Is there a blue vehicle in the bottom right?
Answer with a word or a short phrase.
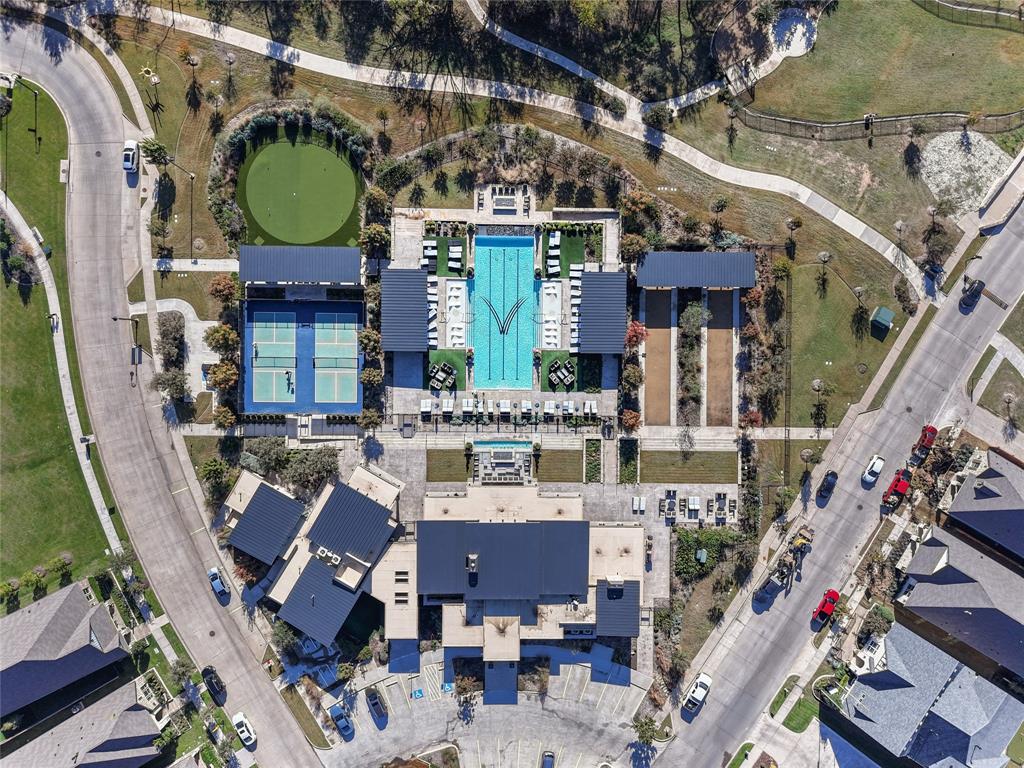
Yes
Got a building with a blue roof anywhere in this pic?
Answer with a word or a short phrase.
Yes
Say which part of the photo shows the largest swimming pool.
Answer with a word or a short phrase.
center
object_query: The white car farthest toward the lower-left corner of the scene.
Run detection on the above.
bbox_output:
[230,715,255,748]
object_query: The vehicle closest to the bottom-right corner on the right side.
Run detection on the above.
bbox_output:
[814,589,841,626]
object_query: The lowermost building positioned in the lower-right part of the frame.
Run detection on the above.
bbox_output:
[836,622,1024,768]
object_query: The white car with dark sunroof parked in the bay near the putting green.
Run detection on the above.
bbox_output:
[119,139,137,172]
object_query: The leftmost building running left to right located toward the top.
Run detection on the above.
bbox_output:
[237,246,361,288]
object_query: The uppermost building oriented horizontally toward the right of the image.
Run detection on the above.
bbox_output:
[637,252,756,291]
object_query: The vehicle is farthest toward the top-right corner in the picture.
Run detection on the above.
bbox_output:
[961,276,987,308]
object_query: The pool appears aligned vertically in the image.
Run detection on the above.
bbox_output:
[472,225,536,391]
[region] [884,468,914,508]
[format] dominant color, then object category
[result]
red truck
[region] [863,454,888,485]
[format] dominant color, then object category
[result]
white car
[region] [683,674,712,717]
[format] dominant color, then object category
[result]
white truck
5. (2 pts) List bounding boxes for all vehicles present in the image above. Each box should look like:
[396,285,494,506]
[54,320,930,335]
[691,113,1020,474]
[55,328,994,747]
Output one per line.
[884,468,914,508]
[817,468,840,500]
[200,667,225,701]
[790,526,816,555]
[683,674,712,717]
[961,276,987,308]
[911,421,942,461]
[755,574,786,615]
[119,139,137,172]
[814,589,841,626]
[541,752,556,768]
[365,689,388,722]
[863,454,888,485]
[230,715,255,748]
[329,705,355,742]
[205,567,230,600]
